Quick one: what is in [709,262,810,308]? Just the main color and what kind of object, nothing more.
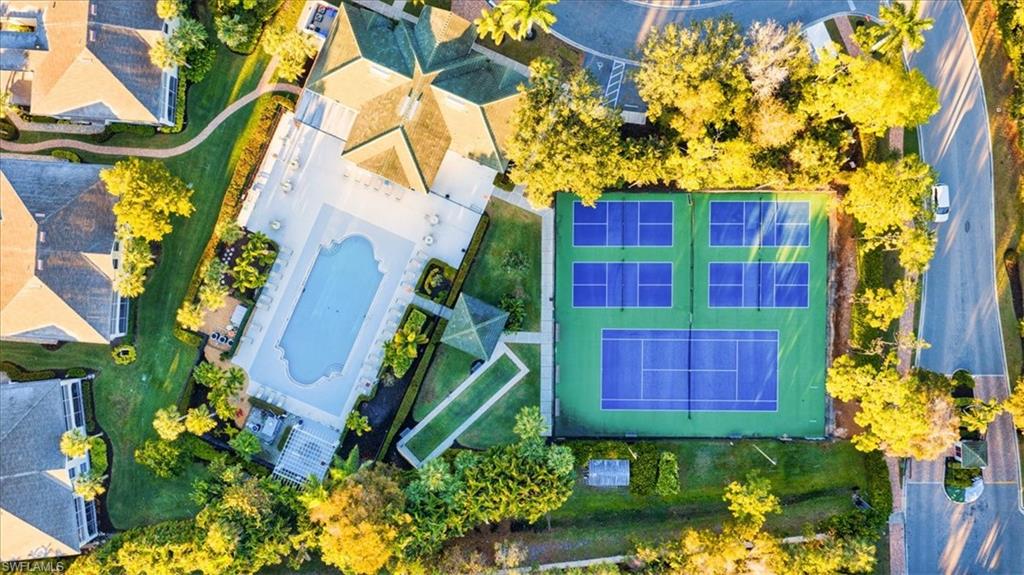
blue sports court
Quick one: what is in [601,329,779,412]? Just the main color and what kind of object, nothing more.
blue tennis court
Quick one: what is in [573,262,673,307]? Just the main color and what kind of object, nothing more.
blue sports court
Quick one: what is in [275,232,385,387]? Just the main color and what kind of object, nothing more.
blue swimming pool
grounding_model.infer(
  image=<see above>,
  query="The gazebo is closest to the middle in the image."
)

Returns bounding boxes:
[440,292,509,361]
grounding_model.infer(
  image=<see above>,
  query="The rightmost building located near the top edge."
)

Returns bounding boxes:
[306,0,527,192]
